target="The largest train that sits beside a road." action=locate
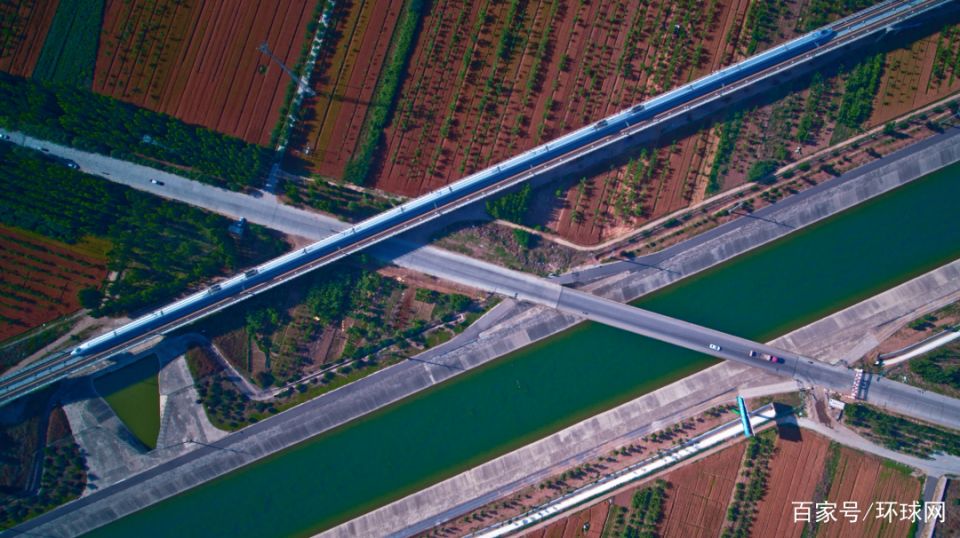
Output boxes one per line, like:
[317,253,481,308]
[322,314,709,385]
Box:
[79,30,831,353]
